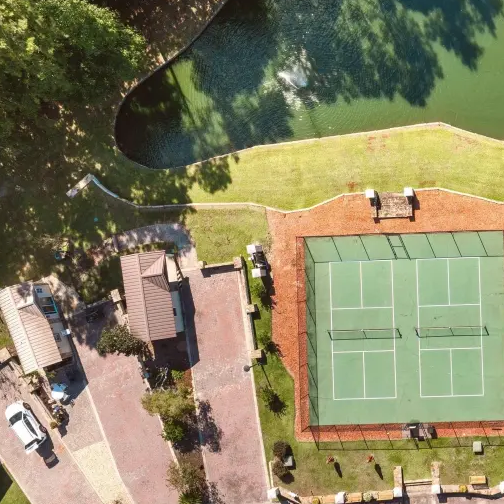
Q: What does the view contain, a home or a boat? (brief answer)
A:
home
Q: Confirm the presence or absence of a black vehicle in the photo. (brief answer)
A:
No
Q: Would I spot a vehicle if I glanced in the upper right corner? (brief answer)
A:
No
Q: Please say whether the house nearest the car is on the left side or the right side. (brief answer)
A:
left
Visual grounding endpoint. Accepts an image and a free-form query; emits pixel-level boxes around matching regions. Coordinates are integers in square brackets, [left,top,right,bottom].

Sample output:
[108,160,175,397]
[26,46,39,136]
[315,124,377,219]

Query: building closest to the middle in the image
[119,249,185,347]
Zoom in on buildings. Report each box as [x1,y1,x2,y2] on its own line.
[119,249,185,347]
[0,279,77,377]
